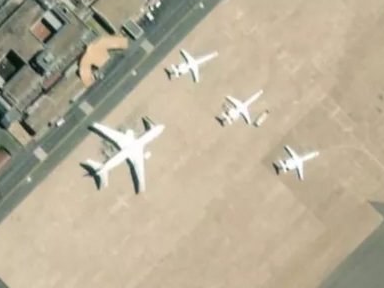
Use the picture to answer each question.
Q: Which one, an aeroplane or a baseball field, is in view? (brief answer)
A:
aeroplane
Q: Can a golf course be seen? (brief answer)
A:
No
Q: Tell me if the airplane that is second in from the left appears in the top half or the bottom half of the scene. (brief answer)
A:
top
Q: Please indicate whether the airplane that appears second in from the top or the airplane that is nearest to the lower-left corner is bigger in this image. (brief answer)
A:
the airplane that is nearest to the lower-left corner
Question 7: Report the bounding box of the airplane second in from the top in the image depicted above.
[220,91,262,126]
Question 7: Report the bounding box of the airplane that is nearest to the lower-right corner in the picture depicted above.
[278,145,318,180]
